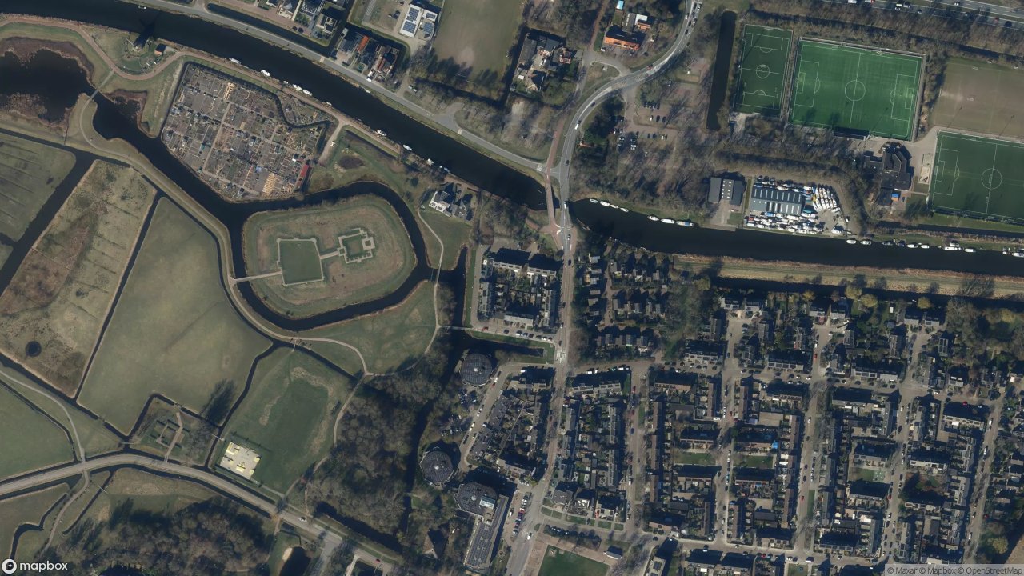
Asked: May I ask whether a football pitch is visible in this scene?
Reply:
Yes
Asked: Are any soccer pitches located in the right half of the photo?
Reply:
Yes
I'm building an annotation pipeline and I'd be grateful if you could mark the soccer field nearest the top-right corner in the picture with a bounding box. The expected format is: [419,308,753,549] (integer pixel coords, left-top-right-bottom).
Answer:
[941,61,1024,136]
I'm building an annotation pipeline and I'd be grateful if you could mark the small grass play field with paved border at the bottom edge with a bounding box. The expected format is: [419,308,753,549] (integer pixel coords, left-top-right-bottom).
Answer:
[537,546,611,576]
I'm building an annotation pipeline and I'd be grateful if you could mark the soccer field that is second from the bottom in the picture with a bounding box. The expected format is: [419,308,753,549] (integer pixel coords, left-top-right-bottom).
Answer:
[929,131,1024,224]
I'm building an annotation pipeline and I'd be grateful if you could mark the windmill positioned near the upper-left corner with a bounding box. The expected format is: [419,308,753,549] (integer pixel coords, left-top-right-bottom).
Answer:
[126,41,143,57]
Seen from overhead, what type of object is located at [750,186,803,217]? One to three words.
building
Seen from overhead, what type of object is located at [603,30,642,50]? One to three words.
house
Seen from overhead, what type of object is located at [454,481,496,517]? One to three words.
building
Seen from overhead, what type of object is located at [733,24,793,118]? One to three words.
soccer field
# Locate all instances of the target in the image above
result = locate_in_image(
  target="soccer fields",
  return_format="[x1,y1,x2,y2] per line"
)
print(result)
[537,546,611,576]
[929,131,1024,224]
[733,24,793,118]
[788,37,926,141]
[941,61,1024,136]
